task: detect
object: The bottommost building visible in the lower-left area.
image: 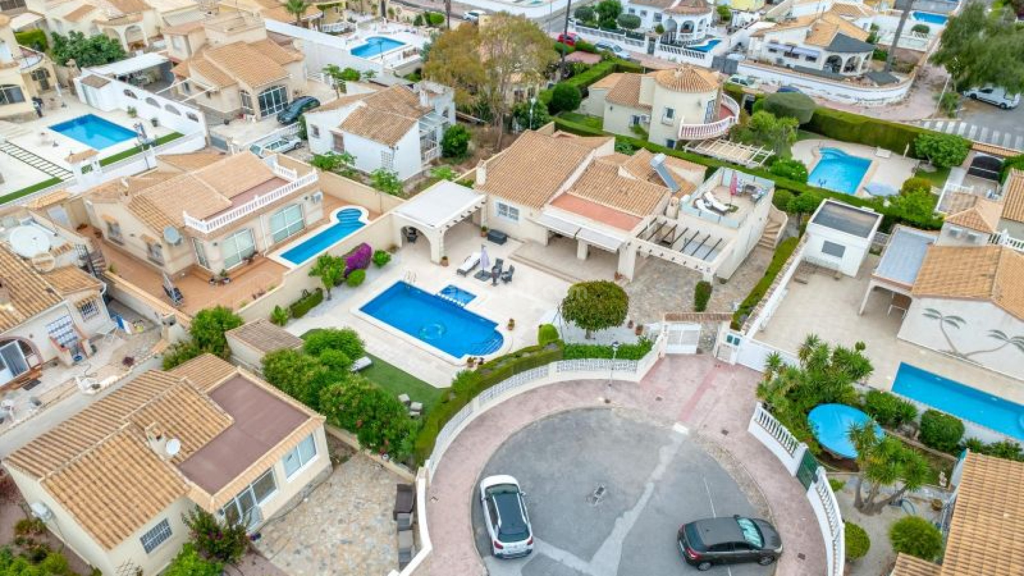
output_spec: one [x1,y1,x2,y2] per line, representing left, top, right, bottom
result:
[5,352,332,576]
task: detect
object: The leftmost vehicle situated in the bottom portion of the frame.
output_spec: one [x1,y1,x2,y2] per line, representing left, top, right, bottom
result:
[479,476,535,565]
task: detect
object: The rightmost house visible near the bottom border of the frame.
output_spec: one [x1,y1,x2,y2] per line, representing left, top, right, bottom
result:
[891,450,1024,576]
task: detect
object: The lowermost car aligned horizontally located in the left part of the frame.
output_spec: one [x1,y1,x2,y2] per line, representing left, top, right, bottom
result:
[249,130,302,159]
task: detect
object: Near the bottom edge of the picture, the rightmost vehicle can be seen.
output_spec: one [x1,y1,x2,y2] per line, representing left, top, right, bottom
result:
[676,516,786,573]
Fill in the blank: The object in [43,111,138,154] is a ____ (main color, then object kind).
blue swimming pool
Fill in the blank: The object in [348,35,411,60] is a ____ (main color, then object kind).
blue swimming pool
